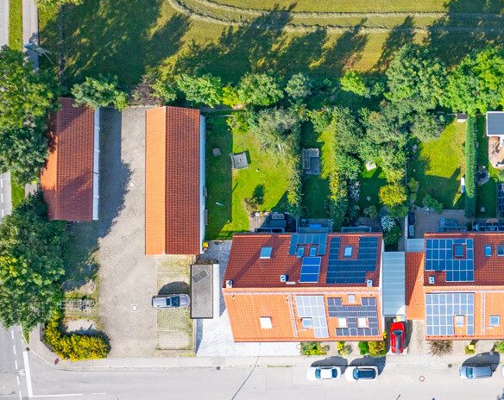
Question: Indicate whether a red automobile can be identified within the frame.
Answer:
Yes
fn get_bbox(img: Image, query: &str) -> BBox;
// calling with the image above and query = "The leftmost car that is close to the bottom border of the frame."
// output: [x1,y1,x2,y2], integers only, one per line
[307,365,343,382]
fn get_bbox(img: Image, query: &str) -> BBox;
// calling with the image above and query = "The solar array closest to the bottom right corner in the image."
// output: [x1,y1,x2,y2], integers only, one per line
[426,294,475,336]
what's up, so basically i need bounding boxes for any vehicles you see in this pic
[154,294,191,310]
[307,365,343,382]
[346,365,380,382]
[389,321,405,354]
[459,364,493,380]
